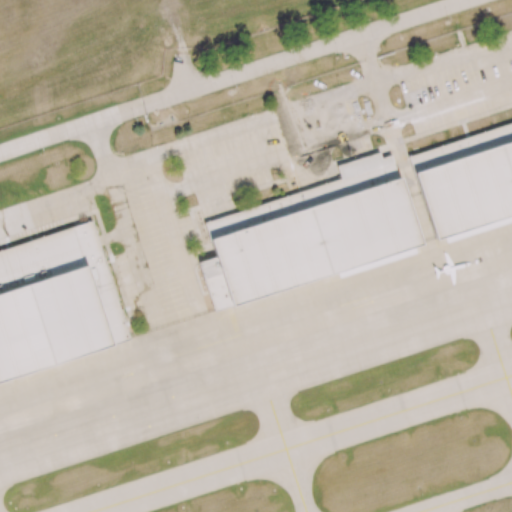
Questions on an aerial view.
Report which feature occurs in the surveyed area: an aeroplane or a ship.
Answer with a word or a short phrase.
aeroplane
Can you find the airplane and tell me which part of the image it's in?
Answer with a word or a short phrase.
right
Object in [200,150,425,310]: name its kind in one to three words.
hangar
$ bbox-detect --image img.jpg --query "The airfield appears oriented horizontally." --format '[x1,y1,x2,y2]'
[0,223,512,512]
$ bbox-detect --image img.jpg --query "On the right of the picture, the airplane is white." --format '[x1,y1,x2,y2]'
[434,252,470,284]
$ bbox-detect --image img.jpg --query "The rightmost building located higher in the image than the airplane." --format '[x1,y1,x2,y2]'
[410,122,512,243]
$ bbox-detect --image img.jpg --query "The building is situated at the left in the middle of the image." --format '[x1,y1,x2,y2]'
[0,220,130,382]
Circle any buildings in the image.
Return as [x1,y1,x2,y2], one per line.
[0,220,130,382]
[410,122,512,243]
[200,150,425,310]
